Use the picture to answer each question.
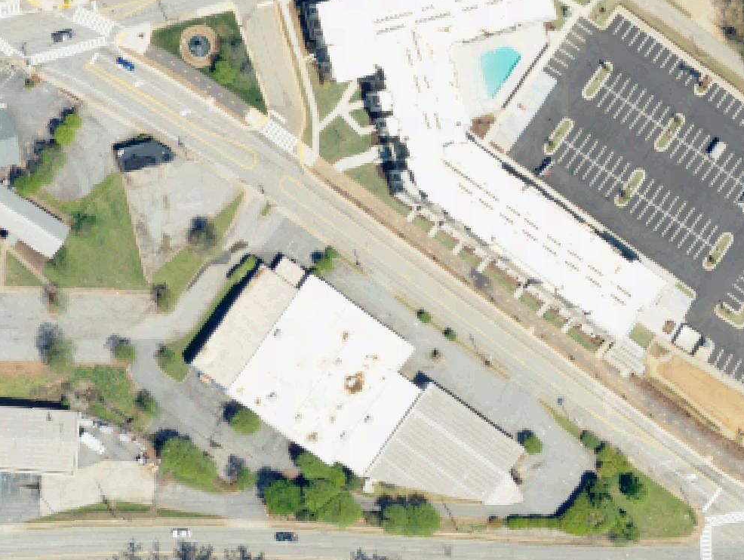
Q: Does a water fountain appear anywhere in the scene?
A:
Yes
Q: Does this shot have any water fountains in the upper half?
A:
Yes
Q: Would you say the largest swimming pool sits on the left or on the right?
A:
right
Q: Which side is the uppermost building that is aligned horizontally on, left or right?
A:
left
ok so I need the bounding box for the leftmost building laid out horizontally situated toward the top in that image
[118,144,175,173]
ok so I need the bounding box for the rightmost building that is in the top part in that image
[298,0,671,343]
